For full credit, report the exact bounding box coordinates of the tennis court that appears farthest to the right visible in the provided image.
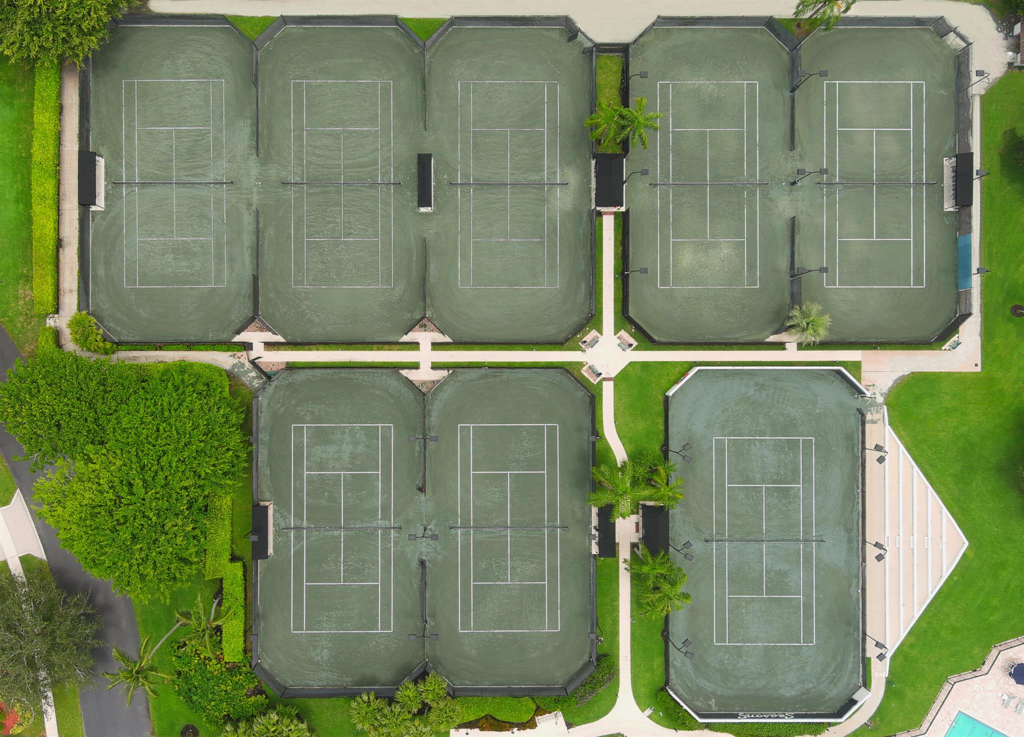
[793,26,960,343]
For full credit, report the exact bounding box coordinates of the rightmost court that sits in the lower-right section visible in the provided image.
[668,370,863,713]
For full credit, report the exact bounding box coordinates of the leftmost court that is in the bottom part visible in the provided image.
[258,370,425,688]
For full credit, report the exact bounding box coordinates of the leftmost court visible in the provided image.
[89,27,258,341]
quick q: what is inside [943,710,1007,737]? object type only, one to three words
swimming pool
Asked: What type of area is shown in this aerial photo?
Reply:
sports ground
